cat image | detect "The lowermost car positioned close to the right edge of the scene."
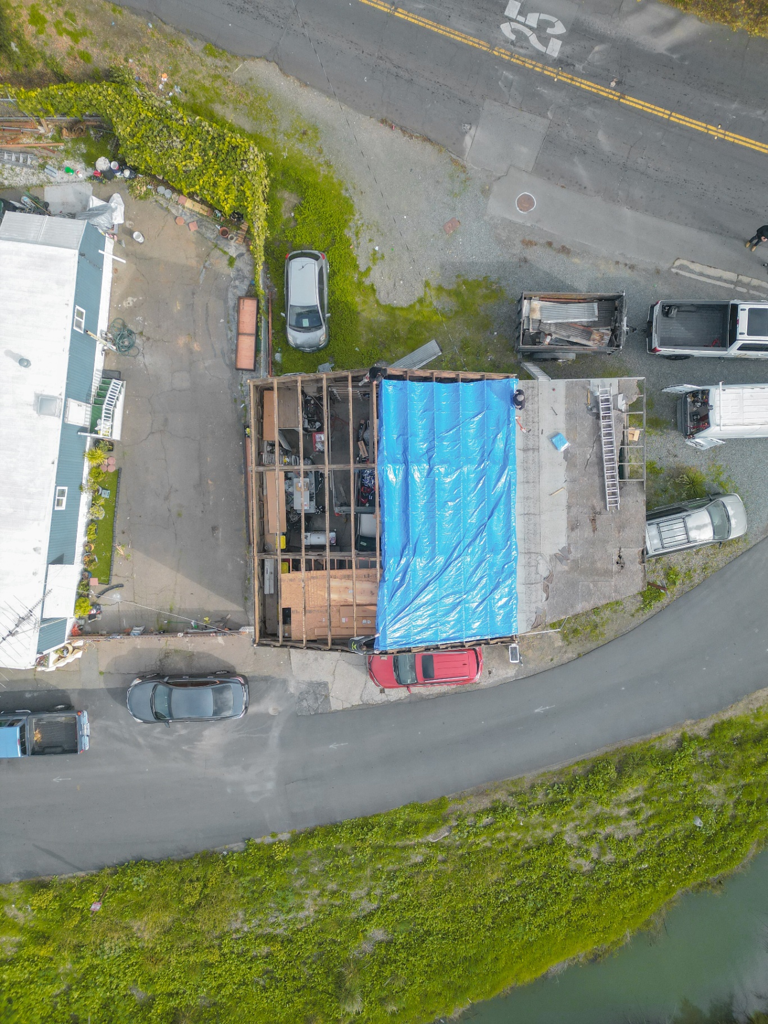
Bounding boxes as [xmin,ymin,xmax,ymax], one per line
[647,494,749,557]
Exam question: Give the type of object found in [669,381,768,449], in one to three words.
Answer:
van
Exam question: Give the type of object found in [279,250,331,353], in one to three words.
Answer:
car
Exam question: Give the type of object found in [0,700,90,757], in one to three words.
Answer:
truck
